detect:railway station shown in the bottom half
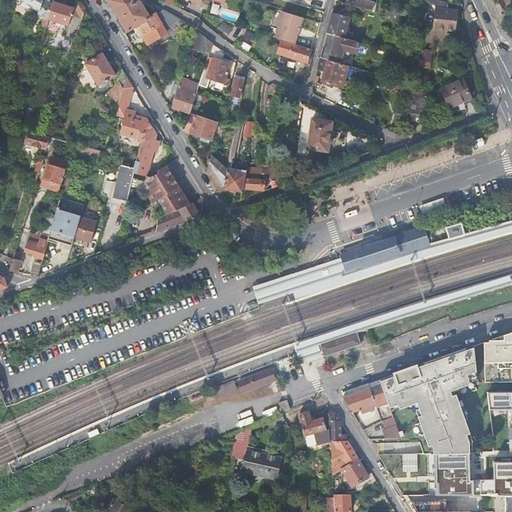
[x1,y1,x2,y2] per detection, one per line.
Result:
[9,221,512,475]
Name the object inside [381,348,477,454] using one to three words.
building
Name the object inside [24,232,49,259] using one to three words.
house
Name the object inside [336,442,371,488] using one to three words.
house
